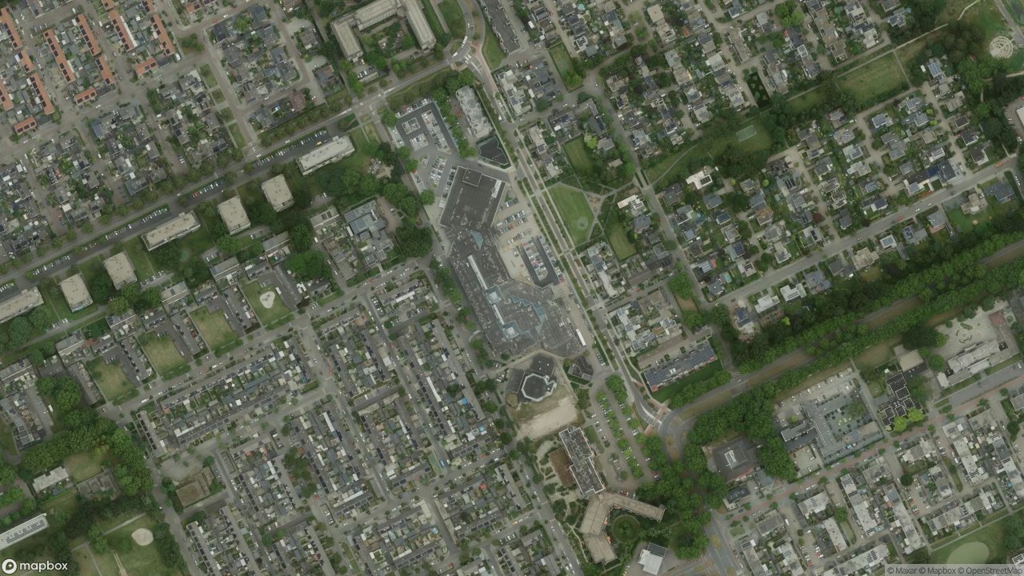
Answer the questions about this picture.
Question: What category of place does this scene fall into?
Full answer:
This looks like a residential area.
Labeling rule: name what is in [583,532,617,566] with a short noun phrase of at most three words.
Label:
building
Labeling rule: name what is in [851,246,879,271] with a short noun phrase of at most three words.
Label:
house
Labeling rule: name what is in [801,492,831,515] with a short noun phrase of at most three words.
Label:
house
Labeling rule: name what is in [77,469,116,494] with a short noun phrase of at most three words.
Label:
building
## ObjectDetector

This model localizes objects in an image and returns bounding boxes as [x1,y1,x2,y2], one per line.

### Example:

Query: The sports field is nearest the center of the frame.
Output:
[550,185,593,243]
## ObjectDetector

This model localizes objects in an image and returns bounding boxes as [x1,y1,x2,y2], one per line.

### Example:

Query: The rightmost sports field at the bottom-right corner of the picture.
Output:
[949,540,989,568]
